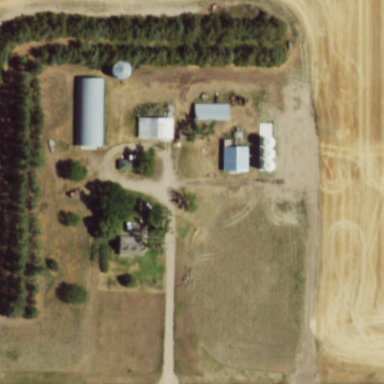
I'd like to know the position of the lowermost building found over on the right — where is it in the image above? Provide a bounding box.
[223,146,249,174]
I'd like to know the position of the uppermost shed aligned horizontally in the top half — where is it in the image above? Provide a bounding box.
[194,103,230,120]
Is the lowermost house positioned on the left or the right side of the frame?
left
